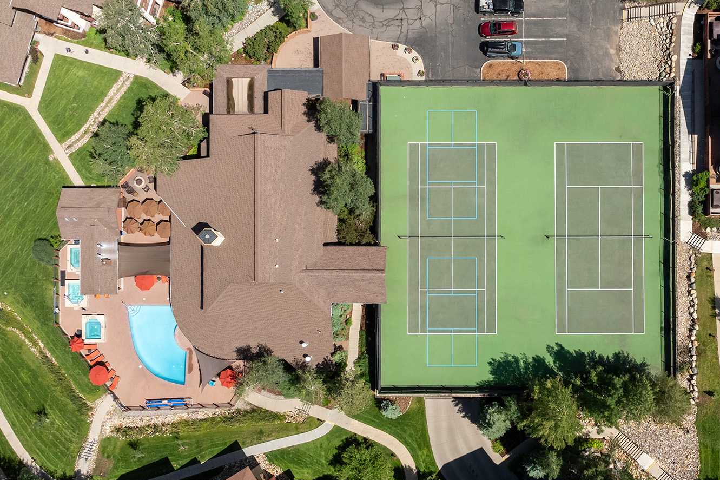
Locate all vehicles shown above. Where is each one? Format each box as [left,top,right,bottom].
[481,38,521,58]
[478,0,524,14]
[479,17,517,38]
